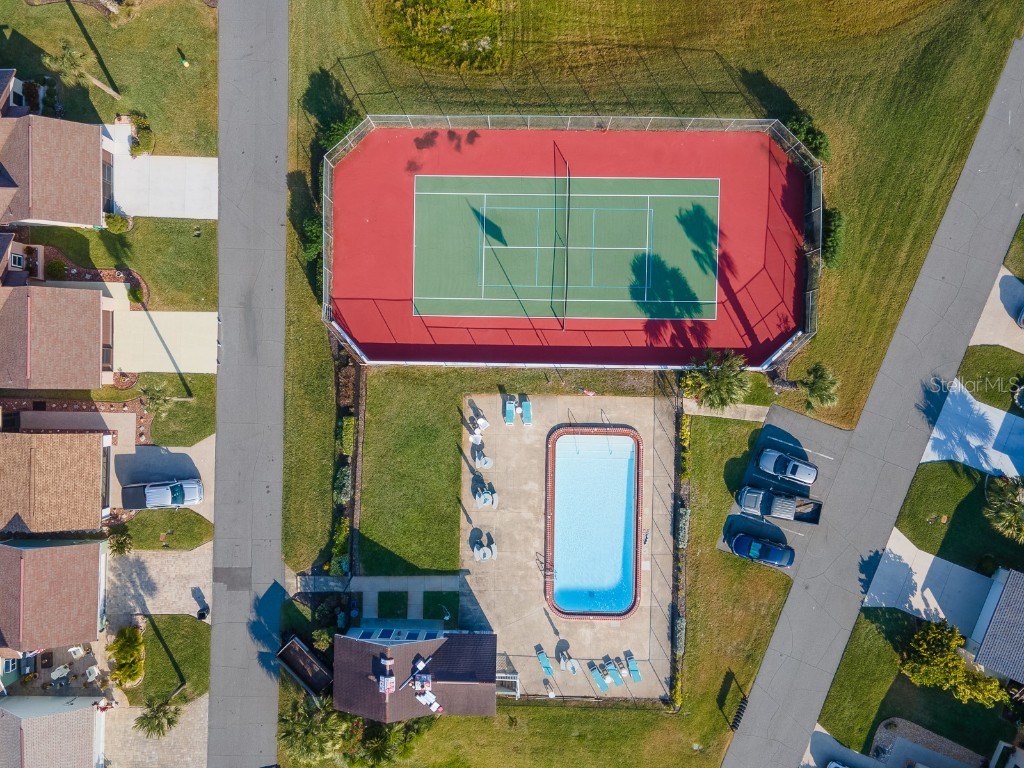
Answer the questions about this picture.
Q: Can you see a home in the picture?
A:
Yes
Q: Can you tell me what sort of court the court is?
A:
tennis court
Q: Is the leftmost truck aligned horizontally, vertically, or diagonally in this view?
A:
horizontally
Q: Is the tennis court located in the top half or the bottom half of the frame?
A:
top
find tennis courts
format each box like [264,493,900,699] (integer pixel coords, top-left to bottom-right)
[331,128,806,363]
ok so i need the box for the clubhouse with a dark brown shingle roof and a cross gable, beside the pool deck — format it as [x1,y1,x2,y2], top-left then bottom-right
[334,628,497,722]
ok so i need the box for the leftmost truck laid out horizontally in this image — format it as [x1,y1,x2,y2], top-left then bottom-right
[121,477,204,510]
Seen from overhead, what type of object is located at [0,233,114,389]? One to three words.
house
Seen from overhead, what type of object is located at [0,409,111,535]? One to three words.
house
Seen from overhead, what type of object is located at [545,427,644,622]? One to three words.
swimming pool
